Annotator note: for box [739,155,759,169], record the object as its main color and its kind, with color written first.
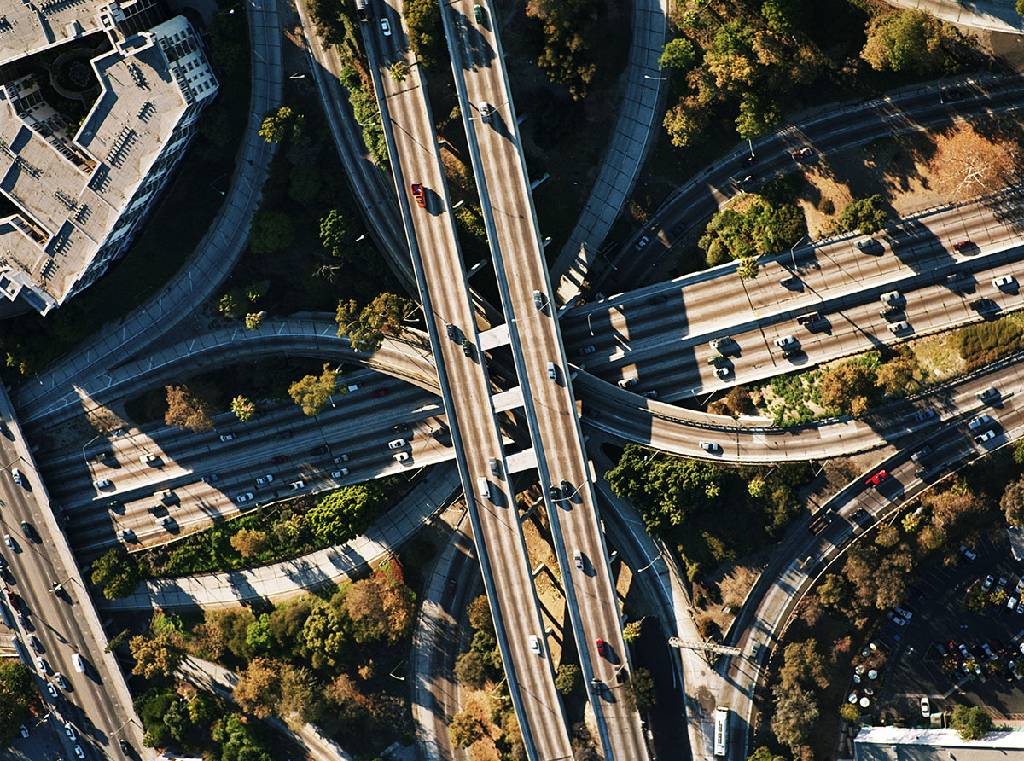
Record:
black car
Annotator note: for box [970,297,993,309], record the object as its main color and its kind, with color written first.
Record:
black vehicle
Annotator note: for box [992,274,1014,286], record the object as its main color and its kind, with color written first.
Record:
white vehicle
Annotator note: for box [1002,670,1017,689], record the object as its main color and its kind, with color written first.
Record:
black car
